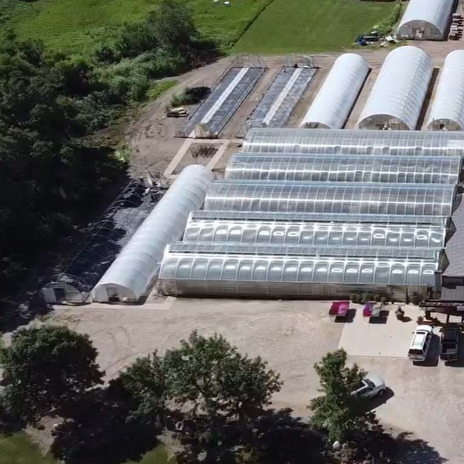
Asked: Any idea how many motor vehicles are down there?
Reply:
three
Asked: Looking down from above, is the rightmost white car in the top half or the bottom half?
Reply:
bottom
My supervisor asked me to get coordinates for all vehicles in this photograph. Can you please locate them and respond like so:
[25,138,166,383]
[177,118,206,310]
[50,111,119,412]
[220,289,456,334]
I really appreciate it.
[358,371,399,401]
[436,322,461,364]
[408,325,431,364]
